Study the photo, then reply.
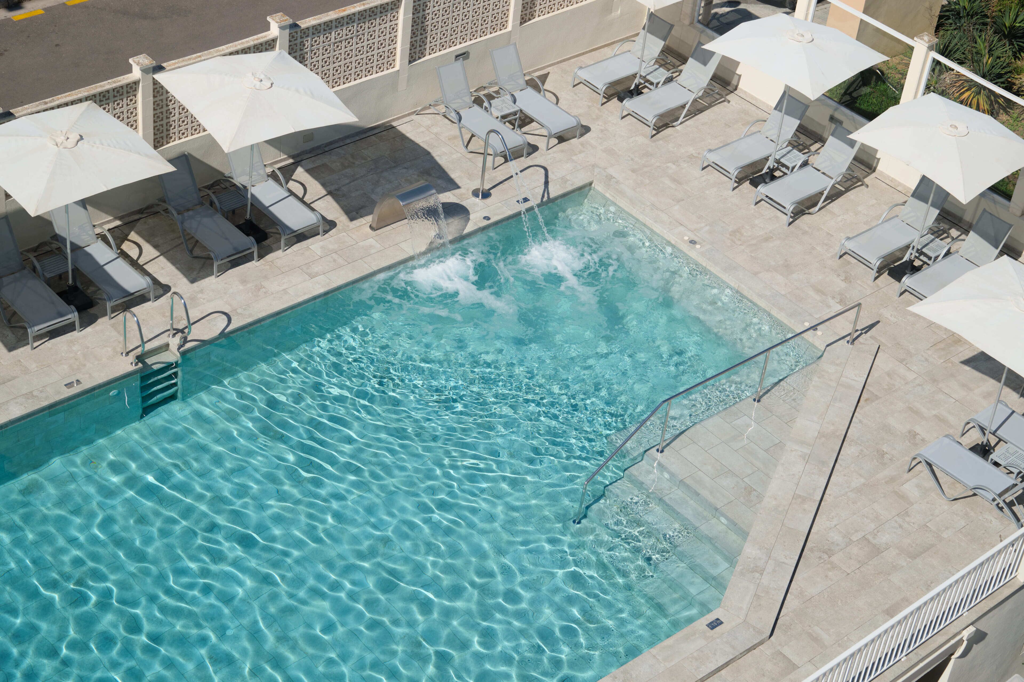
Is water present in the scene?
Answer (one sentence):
Yes, some water is visible.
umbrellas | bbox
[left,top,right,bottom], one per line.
[847,92,1024,279]
[0,103,175,307]
[154,49,359,238]
[905,258,1024,469]
[617,0,665,98]
[701,11,890,184]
